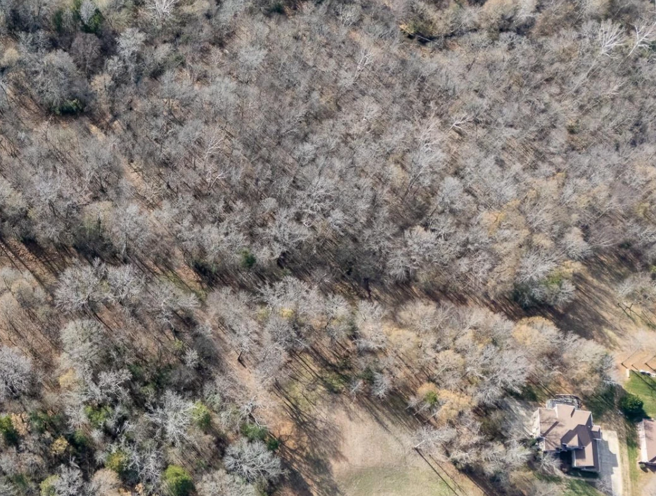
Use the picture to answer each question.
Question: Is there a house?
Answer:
Yes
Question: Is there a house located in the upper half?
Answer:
No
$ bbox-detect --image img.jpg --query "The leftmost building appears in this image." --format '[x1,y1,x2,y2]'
[532,404,601,475]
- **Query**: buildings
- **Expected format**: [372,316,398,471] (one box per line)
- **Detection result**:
[637,417,656,465]
[532,404,601,475]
